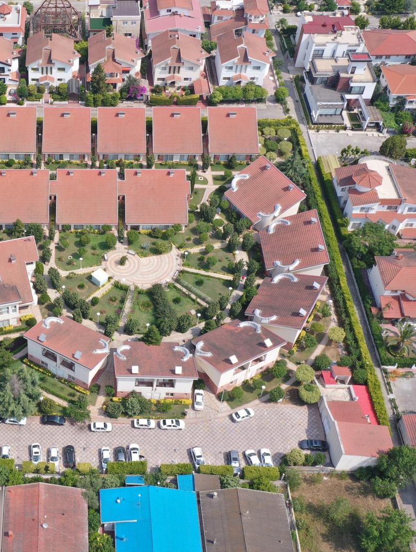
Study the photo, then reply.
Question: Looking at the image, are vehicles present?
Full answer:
Yes, there's a vehicle here.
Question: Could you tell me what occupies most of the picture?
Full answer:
Most of the picture is covered by buildings.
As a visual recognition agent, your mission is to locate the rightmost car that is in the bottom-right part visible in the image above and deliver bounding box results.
[299,438,328,452]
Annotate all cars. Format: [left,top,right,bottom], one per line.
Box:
[48,445,60,470]
[89,421,114,433]
[114,442,126,461]
[258,446,275,465]
[193,388,205,412]
[99,446,112,471]
[29,441,42,466]
[190,446,206,472]
[230,407,256,424]
[3,413,28,428]
[132,417,158,430]
[242,446,261,465]
[227,449,242,474]
[64,445,76,470]
[299,438,328,452]
[159,417,185,430]
[128,440,141,461]
[295,10,309,17]
[41,413,66,427]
